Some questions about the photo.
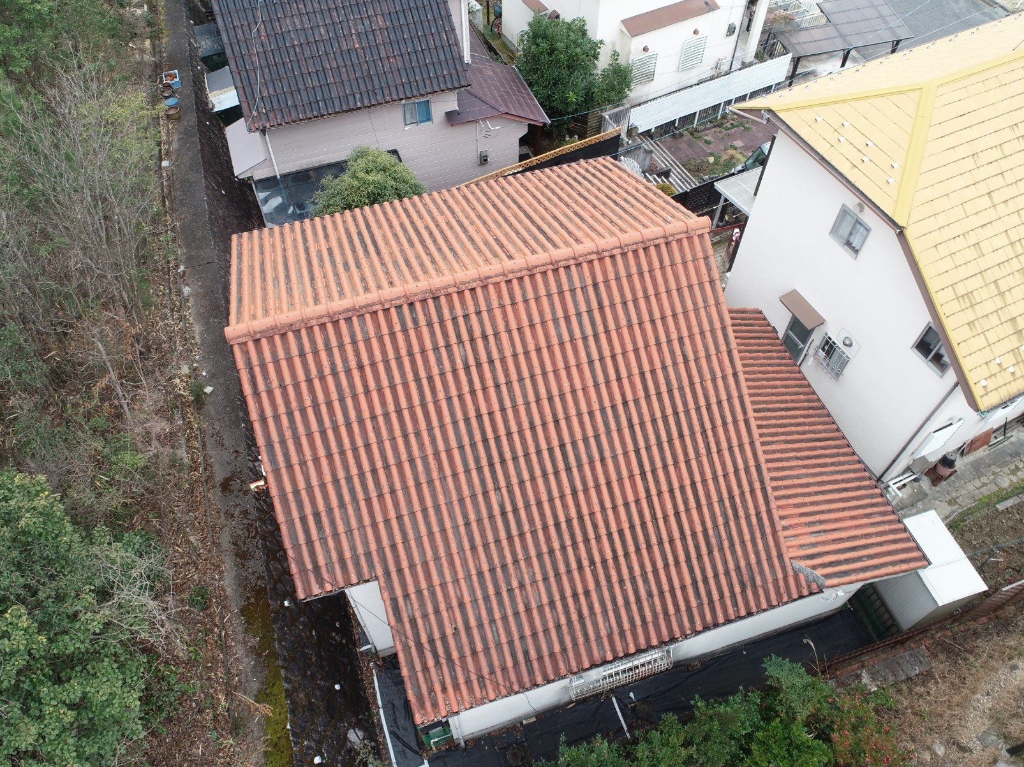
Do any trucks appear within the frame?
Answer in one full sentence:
No, no truck is visible in the scene.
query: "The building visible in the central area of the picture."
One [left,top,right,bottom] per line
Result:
[221,155,925,747]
